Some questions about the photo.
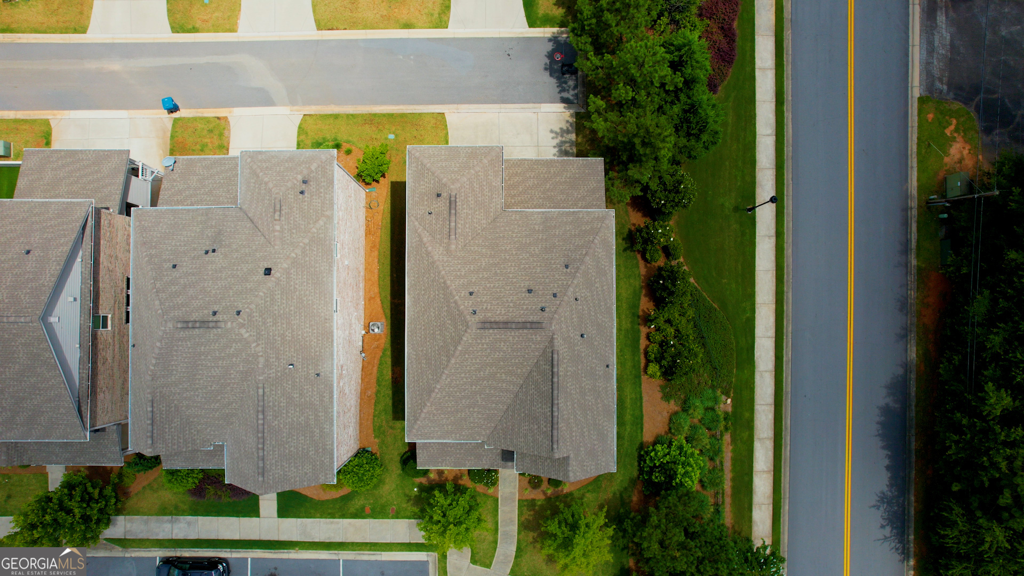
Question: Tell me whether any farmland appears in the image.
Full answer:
No, the picture contains no farmland.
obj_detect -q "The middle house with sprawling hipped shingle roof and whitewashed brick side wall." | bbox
[126,149,370,498]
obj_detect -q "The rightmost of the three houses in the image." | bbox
[405,143,618,484]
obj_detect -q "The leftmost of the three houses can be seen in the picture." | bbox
[0,148,153,471]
